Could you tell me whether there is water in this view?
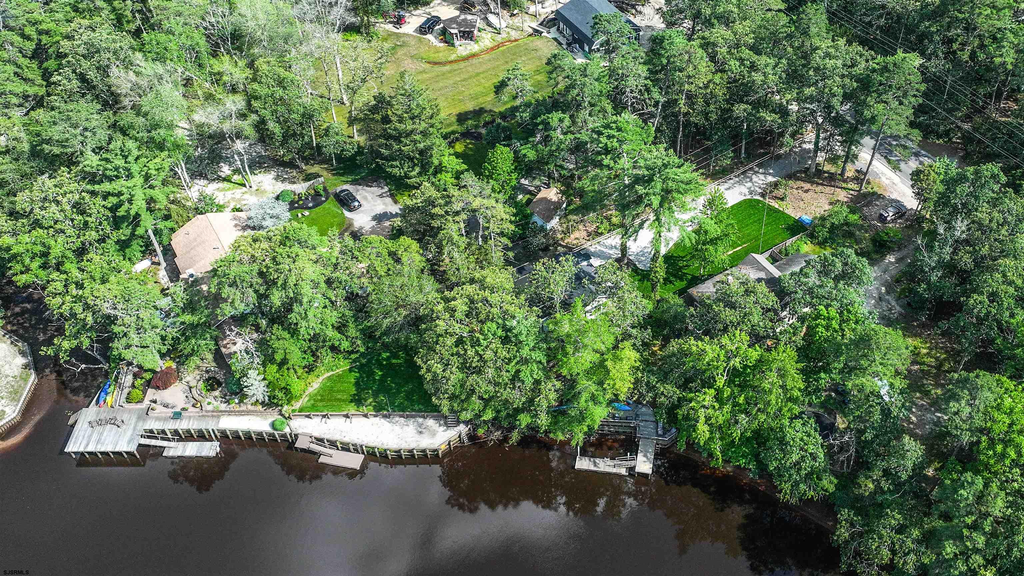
Yes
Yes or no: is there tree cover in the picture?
Yes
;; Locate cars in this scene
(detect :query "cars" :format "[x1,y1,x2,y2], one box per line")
[880,204,908,223]
[340,190,359,213]
[418,17,442,34]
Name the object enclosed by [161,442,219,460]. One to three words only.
pier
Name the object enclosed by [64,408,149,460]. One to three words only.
pier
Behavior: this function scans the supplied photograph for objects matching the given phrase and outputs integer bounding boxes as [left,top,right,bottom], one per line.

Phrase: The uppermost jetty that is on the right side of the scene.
[636,409,678,449]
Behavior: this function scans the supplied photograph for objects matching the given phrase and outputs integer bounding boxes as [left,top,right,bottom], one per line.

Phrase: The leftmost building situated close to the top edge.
[442,13,479,44]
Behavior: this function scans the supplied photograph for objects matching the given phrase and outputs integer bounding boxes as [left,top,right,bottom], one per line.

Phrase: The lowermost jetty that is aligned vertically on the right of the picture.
[634,438,656,482]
